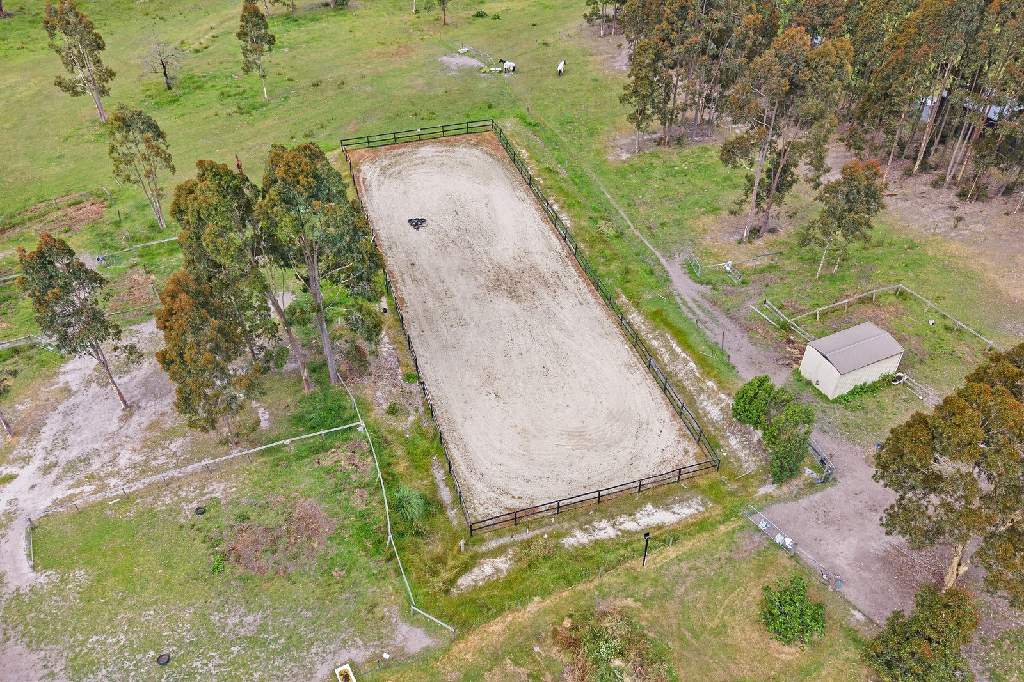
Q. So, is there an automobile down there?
No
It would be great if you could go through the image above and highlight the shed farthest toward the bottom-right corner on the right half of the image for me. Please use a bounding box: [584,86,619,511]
[798,322,907,400]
